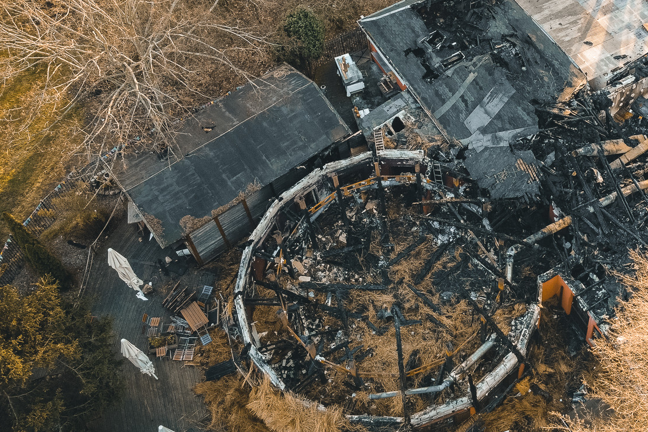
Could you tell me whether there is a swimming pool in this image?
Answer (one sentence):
No, I find no swimming pool anywhere in the image.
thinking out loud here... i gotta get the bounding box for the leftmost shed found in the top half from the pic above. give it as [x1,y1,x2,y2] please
[98,60,353,273]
